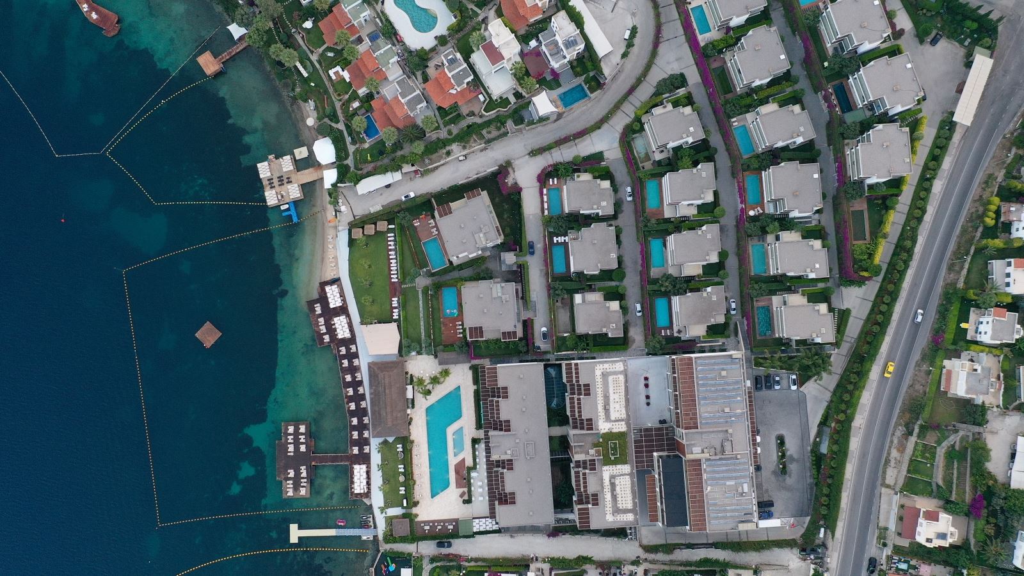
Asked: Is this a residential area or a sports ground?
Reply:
residential area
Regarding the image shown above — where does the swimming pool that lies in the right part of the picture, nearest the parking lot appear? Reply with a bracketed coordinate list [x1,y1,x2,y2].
[755,305,773,338]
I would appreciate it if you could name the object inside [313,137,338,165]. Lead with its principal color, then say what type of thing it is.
white tent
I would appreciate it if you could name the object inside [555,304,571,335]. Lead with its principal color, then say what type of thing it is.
gray swimming pool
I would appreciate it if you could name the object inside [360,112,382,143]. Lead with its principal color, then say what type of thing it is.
blue swimming pool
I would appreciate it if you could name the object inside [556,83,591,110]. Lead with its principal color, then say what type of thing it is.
blue swimming pool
